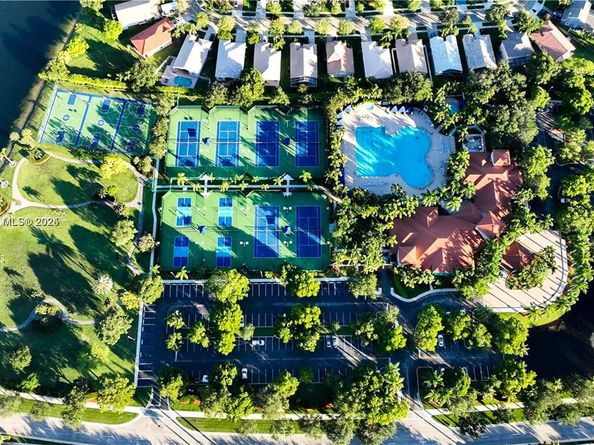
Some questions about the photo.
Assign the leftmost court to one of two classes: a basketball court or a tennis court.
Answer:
basketball court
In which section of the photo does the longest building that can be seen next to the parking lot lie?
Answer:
right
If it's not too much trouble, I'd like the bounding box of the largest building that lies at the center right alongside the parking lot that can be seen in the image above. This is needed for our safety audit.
[391,150,525,273]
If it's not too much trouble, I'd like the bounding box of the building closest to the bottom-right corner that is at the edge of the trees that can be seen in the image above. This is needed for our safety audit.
[501,240,533,270]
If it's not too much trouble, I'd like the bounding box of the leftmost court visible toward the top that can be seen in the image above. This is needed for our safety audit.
[40,90,90,144]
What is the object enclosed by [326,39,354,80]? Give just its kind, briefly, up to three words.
house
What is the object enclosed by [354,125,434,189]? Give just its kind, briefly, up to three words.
swimming pool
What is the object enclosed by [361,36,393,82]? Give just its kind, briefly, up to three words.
house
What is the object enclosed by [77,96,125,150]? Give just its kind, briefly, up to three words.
basketball court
